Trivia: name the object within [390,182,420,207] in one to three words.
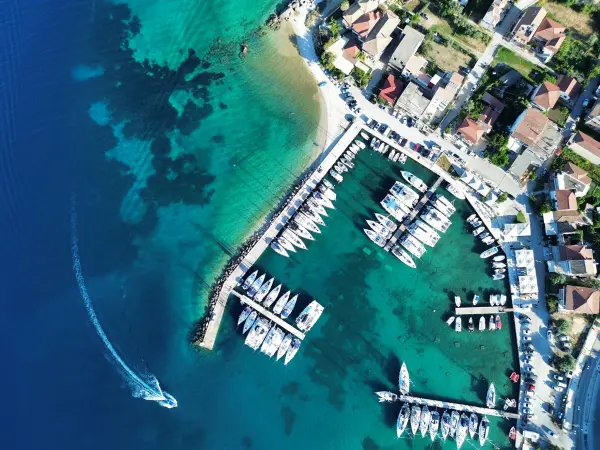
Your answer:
boat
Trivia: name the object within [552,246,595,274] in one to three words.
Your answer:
house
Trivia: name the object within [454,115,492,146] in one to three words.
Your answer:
house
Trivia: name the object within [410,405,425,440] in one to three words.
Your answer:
boat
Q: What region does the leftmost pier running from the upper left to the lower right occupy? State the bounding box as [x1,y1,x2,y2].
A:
[231,288,305,339]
